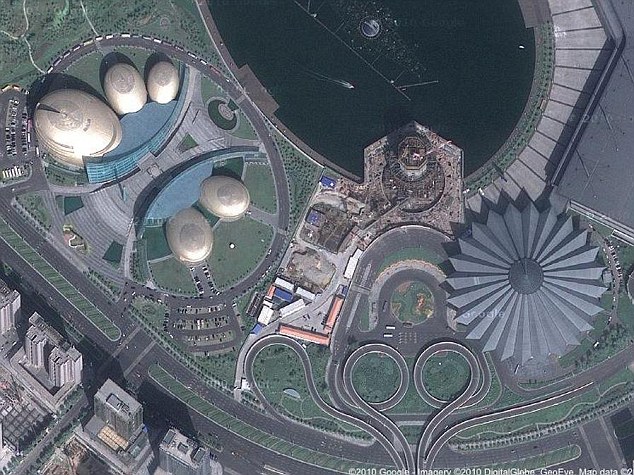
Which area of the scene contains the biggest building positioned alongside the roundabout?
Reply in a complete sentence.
The biggest building positioned alongside the roundabout sits in the right section of the image.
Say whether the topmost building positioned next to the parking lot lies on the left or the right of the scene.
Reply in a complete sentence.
The topmost building positioned next to the parking lot appears in the left half of the scene.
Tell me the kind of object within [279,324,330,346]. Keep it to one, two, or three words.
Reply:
shed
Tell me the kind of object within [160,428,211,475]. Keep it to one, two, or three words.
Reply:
building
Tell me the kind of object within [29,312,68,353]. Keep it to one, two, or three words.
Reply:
building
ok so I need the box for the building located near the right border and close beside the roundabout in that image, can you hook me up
[446,201,612,366]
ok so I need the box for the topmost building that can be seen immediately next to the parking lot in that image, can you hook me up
[85,59,191,184]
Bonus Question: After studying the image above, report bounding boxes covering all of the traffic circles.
[391,282,435,327]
